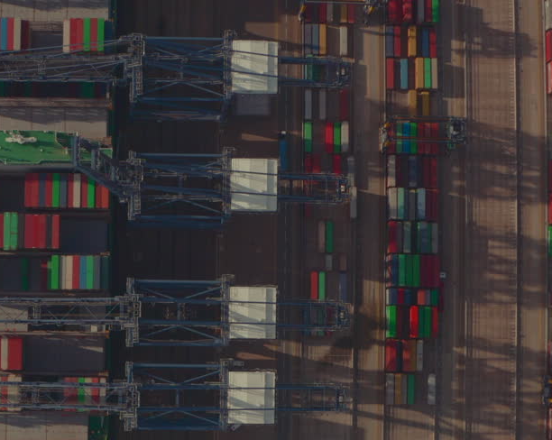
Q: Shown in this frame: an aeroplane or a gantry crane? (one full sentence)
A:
This aerial view contains a gantry crane.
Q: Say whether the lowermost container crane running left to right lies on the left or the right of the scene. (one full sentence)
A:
The lowermost container crane running left to right is on the left side of the image.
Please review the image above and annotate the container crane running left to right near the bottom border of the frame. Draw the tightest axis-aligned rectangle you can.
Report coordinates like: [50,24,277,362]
[0,352,350,433]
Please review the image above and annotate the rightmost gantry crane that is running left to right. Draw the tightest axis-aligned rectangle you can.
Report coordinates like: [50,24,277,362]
[377,114,470,157]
